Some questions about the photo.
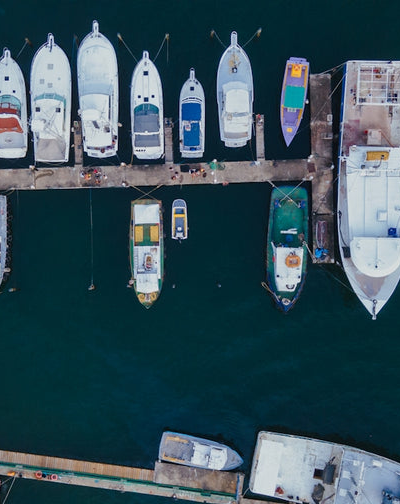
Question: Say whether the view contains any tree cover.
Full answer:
No, tree cover can't be seen anywhere here.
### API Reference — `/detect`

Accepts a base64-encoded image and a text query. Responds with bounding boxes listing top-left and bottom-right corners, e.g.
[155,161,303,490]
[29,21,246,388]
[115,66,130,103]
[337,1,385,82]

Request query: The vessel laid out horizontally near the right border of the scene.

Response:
[247,428,400,504]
